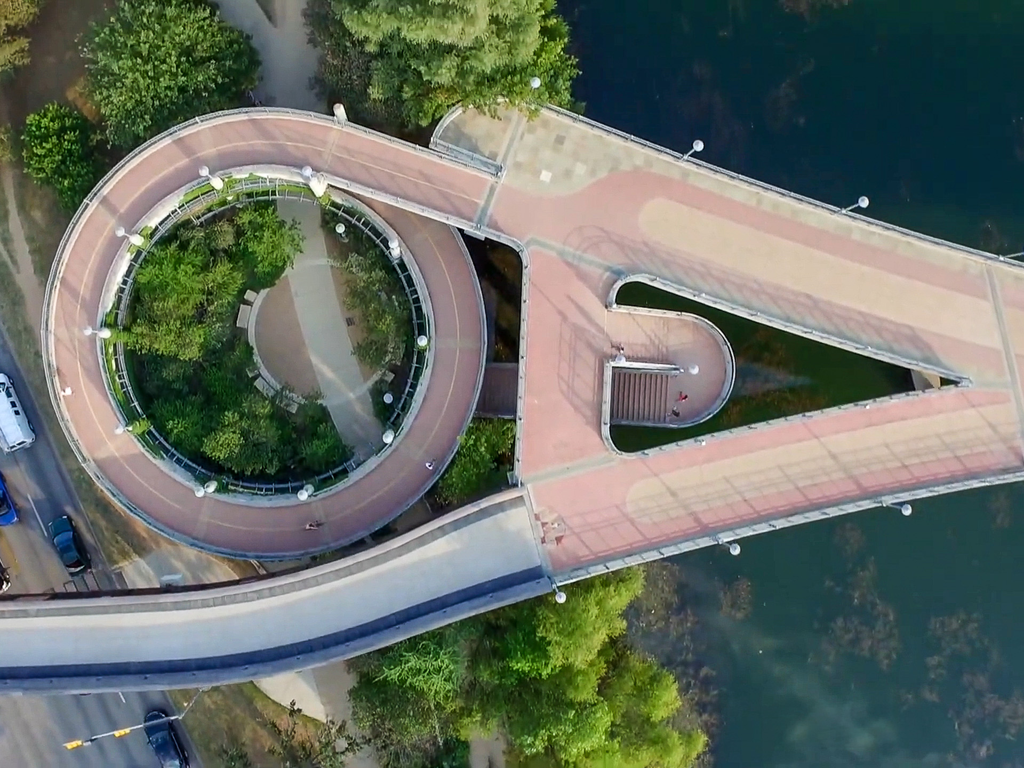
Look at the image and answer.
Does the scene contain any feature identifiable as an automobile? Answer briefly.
Yes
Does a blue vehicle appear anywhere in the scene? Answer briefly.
Yes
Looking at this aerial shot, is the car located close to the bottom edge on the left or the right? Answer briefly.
left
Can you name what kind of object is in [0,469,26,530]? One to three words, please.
car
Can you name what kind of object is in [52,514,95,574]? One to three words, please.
car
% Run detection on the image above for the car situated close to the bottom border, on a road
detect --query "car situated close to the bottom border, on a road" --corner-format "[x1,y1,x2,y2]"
[147,711,195,768]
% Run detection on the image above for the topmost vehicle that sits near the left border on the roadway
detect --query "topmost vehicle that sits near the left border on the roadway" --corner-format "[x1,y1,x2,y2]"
[0,375,41,454]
